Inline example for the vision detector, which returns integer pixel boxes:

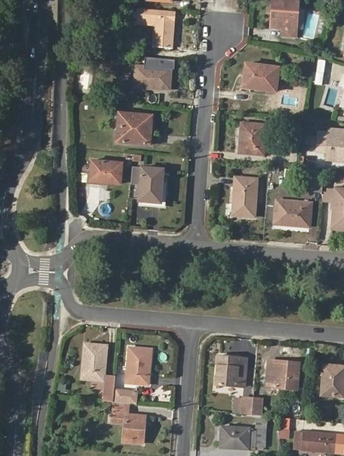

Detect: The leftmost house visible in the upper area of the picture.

[88,159,123,186]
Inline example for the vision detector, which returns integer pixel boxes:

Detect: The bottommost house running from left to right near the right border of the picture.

[292,430,344,456]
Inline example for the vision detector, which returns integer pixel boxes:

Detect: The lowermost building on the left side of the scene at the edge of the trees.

[108,404,147,445]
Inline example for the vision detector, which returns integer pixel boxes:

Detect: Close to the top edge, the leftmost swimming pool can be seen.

[304,10,319,40]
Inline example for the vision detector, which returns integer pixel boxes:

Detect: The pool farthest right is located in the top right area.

[323,84,340,110]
